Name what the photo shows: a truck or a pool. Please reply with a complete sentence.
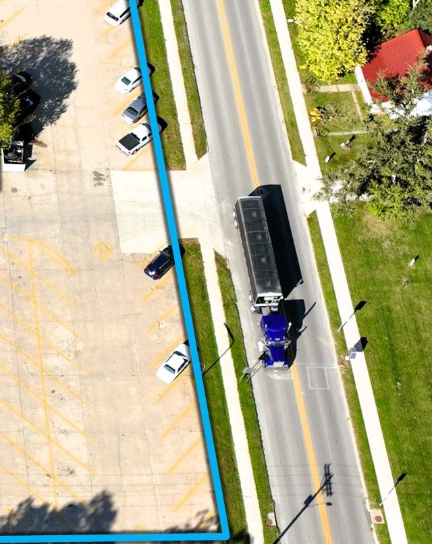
The one in the frame is a truck.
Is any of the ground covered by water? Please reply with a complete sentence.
No, no water is visible.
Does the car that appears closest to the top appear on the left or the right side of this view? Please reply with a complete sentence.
It is on the left.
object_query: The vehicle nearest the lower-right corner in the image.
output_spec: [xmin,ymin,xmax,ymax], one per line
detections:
[248,298,294,371]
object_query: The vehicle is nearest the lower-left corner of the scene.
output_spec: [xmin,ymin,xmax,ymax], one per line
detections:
[153,341,196,384]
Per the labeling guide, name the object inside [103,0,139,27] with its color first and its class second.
white car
